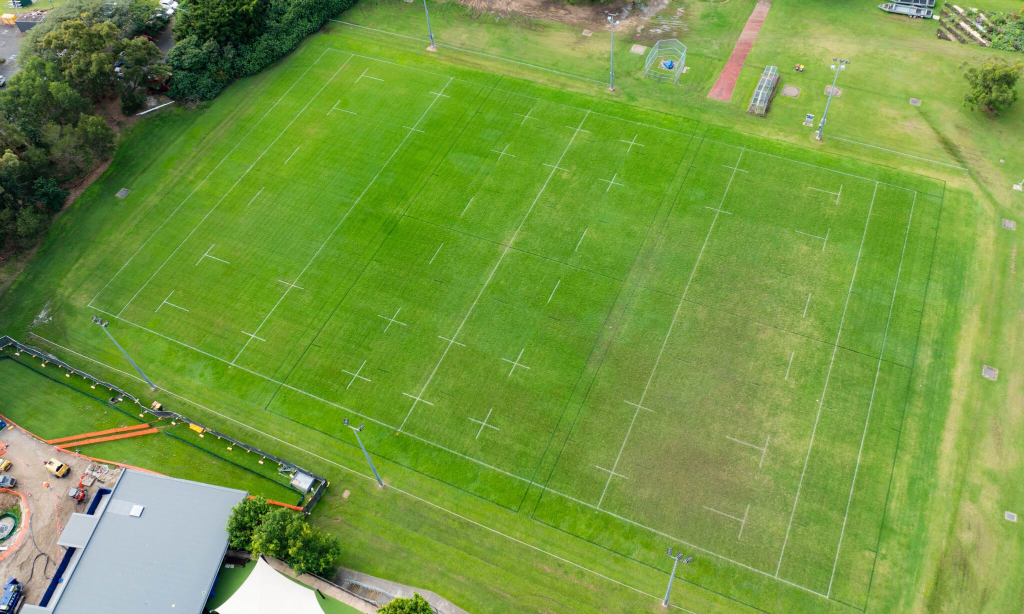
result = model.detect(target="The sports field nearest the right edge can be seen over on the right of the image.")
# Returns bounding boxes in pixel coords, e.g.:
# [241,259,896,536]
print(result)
[532,124,946,614]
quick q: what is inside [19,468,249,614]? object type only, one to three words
building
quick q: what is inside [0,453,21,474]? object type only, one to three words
work vehicle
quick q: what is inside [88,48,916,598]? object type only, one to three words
sports field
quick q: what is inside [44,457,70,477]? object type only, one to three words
vehicle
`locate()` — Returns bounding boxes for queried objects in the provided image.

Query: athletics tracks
[708,1,772,101]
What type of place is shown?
sports ground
